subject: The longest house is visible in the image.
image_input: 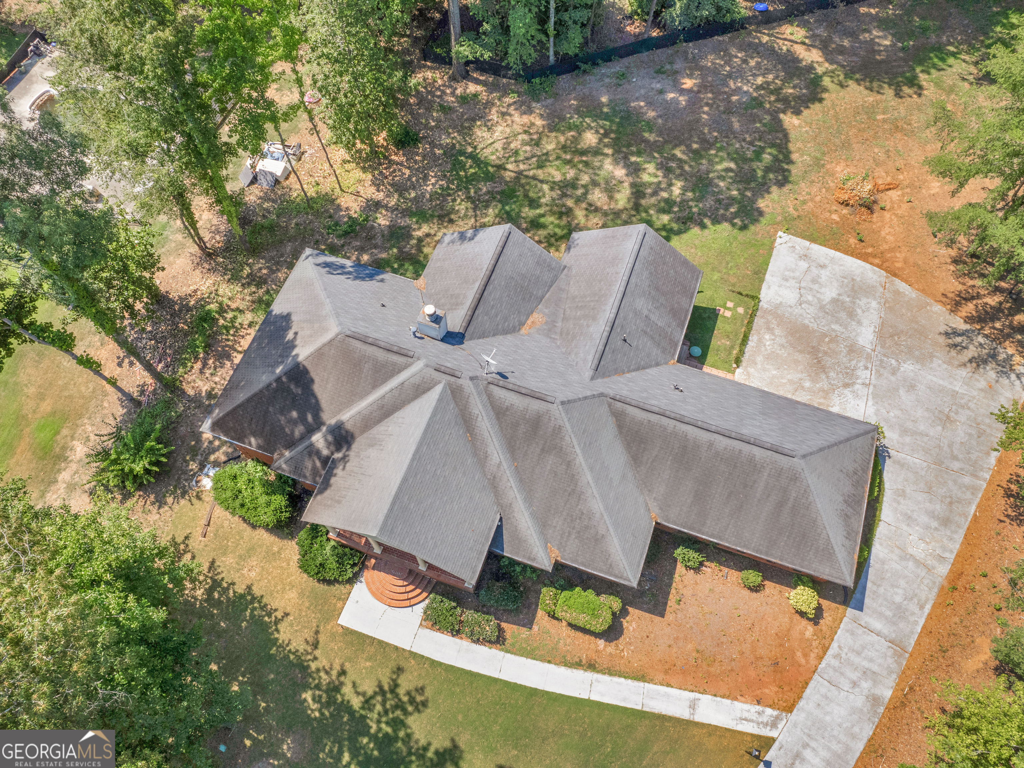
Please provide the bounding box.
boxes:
[199,223,880,591]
